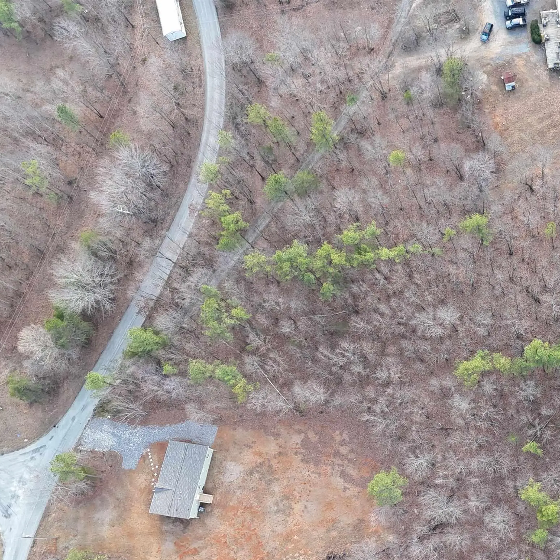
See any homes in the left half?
Yes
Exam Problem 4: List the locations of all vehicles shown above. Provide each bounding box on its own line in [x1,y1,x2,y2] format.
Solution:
[506,18,527,30]
[508,0,531,9]
[481,23,493,42]
[505,8,525,20]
